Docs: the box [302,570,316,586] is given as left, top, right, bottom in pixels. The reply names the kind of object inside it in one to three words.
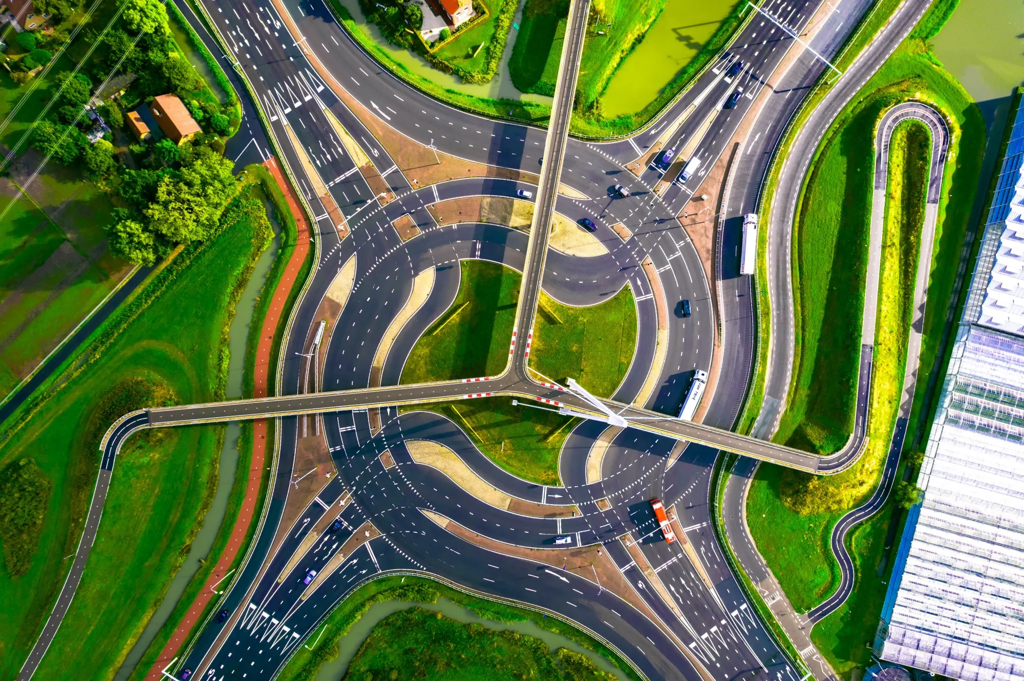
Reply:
car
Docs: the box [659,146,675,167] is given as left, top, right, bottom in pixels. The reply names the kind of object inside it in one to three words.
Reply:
vehicle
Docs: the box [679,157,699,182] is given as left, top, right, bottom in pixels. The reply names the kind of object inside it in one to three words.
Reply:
vehicle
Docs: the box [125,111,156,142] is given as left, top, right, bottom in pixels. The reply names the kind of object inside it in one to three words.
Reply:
building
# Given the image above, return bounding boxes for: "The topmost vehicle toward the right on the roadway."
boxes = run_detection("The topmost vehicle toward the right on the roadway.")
[728,59,743,77]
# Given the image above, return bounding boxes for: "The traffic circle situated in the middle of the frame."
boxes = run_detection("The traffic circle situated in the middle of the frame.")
[190,0,861,681]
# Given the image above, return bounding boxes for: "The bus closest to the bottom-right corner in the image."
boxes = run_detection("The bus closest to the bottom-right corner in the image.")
[651,497,676,544]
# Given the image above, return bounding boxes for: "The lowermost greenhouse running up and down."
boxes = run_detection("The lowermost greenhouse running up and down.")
[878,323,1024,657]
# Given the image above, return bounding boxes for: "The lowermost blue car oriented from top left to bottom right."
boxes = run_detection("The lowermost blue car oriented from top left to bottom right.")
[581,218,597,231]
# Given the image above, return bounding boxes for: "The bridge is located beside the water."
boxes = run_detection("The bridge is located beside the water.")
[147,0,822,474]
